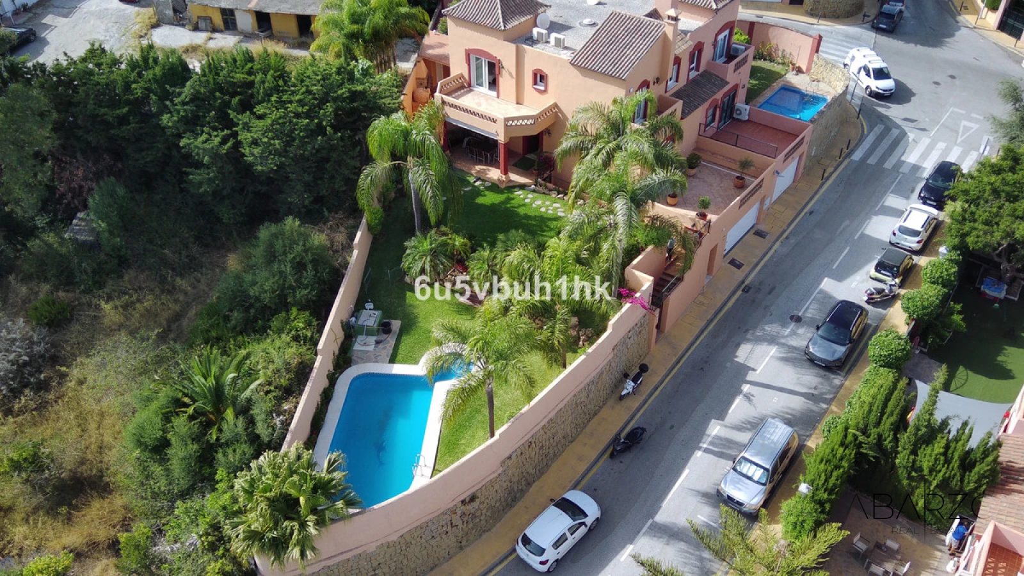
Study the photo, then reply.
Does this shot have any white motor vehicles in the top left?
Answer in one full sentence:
No, in the top left there is no white motor vehicle.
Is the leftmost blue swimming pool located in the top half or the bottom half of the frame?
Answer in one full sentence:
The bottom half of the photo is where the leftmost blue swimming pool is.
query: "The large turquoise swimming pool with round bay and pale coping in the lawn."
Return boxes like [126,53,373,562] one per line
[307,346,483,511]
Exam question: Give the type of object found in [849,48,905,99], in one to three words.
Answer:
van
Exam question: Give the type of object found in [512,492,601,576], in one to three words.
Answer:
car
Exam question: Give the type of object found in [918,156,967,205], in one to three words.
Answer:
car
